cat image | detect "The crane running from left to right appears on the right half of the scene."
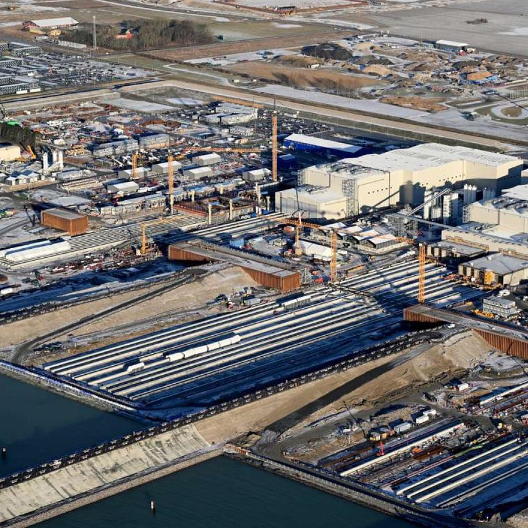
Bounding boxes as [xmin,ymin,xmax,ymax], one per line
[295,222,416,279]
